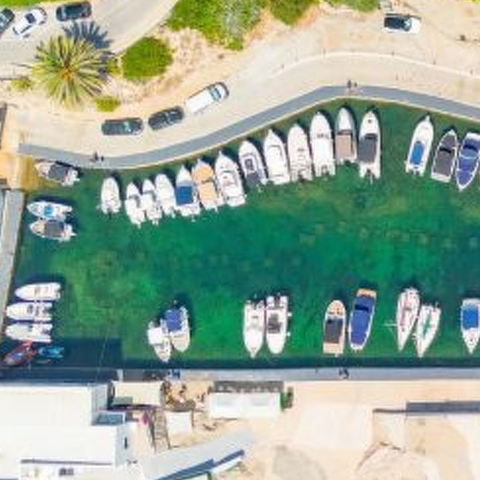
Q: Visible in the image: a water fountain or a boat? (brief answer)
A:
boat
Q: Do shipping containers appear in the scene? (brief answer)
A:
No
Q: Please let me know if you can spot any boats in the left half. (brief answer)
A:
Yes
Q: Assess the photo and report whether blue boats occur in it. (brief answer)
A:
Yes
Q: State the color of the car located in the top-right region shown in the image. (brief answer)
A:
white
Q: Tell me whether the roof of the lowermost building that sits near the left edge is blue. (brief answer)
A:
No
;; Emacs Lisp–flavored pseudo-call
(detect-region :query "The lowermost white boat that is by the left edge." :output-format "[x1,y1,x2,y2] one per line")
[5,321,60,342]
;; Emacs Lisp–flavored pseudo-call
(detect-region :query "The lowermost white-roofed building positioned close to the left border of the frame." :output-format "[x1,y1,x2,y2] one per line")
[0,378,140,480]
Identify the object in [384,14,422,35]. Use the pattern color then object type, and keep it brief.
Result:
white car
